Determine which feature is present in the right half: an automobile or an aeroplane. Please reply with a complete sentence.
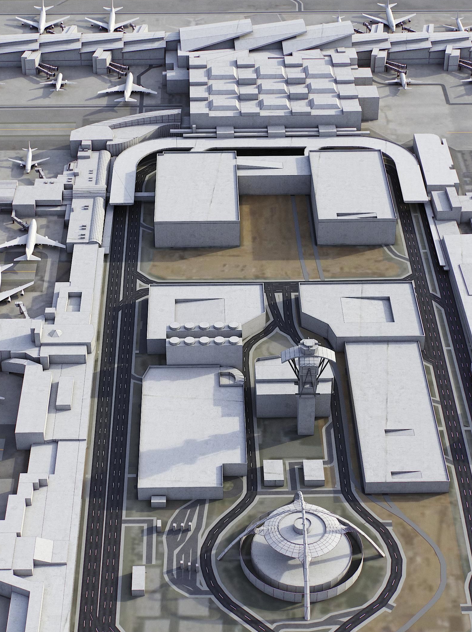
What appears in the right half is an aeroplane.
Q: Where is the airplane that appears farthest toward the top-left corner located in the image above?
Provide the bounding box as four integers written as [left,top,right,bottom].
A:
[15,5,70,34]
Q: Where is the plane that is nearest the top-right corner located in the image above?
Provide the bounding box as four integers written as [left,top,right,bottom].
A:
[443,10,472,32]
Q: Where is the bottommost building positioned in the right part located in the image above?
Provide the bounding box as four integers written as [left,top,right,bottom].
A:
[218,491,386,618]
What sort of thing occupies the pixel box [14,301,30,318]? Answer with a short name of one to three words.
jet bridge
